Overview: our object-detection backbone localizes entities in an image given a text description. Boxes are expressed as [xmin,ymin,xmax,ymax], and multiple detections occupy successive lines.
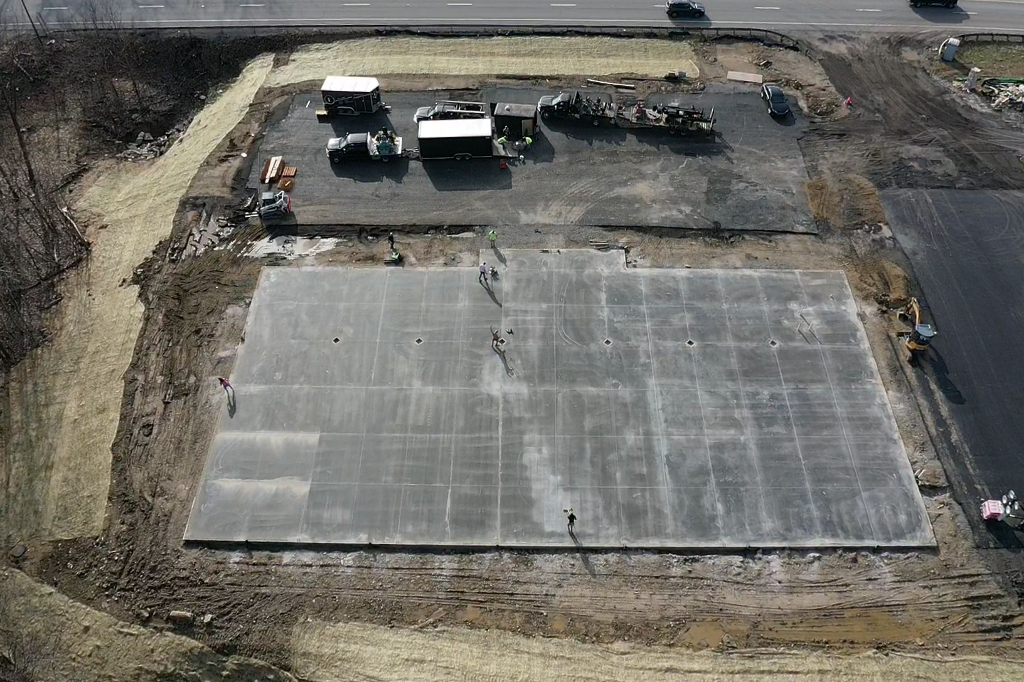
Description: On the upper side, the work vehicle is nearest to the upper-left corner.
[246,192,288,222]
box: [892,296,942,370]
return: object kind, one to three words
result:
work vehicle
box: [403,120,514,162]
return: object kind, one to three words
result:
trailer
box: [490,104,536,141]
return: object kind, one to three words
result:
trailer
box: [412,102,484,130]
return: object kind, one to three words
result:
truck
